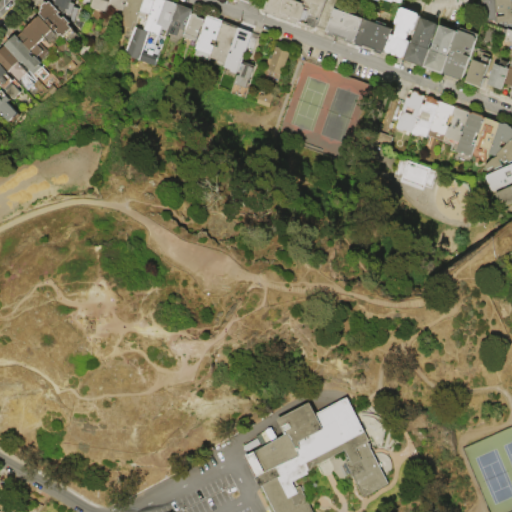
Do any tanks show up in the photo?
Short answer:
No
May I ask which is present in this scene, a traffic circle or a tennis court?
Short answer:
tennis court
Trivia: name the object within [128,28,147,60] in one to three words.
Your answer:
shed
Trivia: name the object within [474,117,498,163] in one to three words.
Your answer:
house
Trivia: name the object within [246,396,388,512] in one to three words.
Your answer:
building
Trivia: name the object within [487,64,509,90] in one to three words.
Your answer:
house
